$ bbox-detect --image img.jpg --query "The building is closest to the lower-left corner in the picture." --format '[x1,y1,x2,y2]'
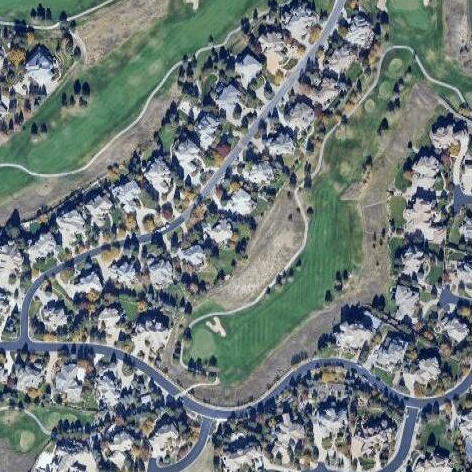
[45,444,91,472]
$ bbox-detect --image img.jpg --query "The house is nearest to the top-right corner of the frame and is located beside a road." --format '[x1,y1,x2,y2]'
[340,14,380,53]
